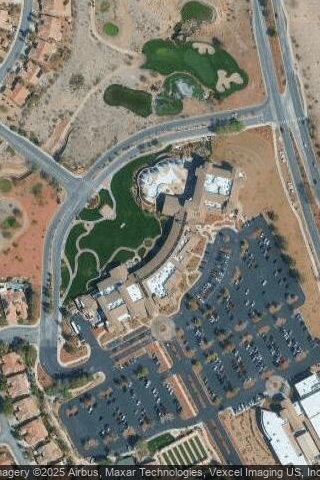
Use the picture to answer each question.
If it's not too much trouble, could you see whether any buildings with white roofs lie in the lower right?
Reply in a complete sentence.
Yes, looking in the lower right, one can make out a building with a white roof.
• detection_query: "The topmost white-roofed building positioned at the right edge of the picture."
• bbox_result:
[294,376,320,401]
